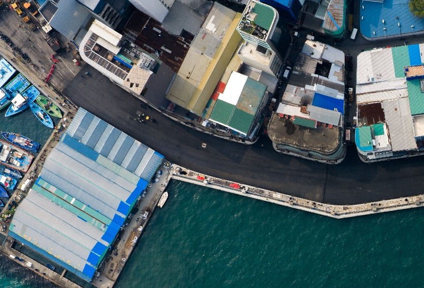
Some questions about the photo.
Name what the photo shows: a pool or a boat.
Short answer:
boat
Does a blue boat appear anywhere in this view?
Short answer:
Yes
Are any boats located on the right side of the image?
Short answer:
No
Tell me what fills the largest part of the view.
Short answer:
buildings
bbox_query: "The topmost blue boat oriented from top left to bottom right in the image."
[31,103,53,128]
